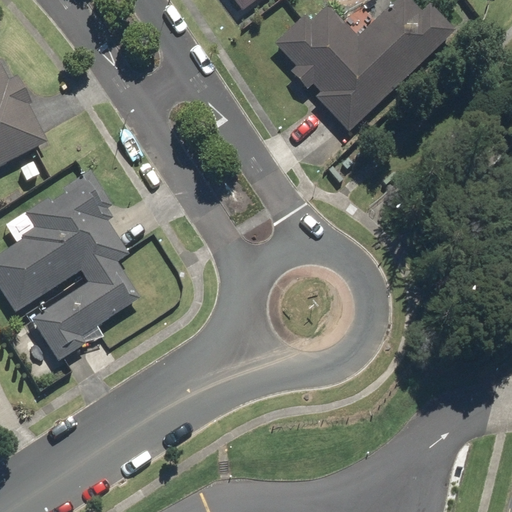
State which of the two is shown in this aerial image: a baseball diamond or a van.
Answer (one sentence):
It is a van that can be seen here.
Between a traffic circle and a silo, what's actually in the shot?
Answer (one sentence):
The one in the frame is a traffic circle.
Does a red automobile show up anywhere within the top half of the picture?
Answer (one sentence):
Yes, the scene does show a red automobile within the top half of the picture.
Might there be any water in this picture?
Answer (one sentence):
No, no water is visible.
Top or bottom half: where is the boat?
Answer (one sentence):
Seen from above, the boat lies in the top half of the view.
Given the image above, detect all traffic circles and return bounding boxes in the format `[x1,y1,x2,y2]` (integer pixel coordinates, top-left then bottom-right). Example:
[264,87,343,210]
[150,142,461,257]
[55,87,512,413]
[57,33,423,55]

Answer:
[268,265,354,351]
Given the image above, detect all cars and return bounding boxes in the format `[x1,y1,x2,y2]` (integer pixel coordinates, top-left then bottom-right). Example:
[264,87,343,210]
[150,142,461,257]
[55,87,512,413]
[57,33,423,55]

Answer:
[46,498,76,512]
[138,160,163,190]
[289,114,320,144]
[160,420,194,447]
[80,477,112,503]
[46,415,78,442]
[119,222,148,247]
[162,0,188,36]
[298,212,326,240]
[188,44,216,76]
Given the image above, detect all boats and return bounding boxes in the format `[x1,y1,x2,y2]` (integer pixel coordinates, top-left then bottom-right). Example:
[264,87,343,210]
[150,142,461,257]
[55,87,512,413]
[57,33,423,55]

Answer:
[122,128,144,164]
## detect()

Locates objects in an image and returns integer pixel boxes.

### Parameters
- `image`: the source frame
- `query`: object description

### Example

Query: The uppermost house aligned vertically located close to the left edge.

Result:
[0,62,48,166]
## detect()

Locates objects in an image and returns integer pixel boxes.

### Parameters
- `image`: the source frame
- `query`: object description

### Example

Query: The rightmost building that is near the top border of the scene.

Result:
[276,0,456,132]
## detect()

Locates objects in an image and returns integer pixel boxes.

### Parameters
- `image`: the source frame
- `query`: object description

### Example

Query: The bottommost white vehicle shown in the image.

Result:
[118,449,153,477]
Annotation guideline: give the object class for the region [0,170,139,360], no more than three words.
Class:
house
